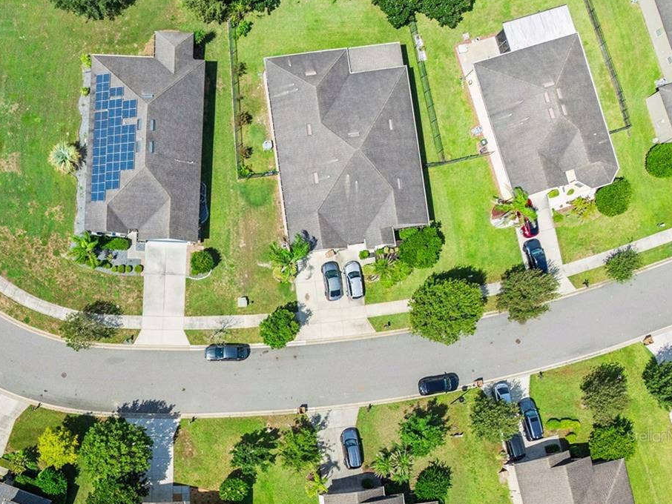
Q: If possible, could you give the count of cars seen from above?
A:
10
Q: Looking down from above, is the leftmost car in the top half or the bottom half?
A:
bottom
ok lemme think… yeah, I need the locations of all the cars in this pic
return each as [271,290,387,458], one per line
[415,372,459,395]
[519,239,549,280]
[320,260,343,304]
[338,426,363,470]
[518,397,546,443]
[205,343,248,363]
[518,218,539,242]
[503,429,531,465]
[488,375,512,419]
[341,258,365,302]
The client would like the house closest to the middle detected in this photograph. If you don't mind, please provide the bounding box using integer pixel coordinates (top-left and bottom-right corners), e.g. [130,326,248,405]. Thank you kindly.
[263,43,430,251]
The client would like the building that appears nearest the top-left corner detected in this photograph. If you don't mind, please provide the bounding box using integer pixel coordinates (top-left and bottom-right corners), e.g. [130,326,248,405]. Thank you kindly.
[83,30,206,243]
